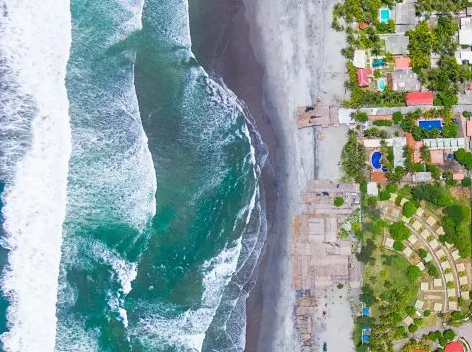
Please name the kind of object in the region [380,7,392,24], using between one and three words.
swimming pool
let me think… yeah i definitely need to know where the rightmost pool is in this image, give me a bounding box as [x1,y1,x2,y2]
[418,119,443,131]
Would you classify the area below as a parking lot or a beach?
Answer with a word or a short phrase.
beach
